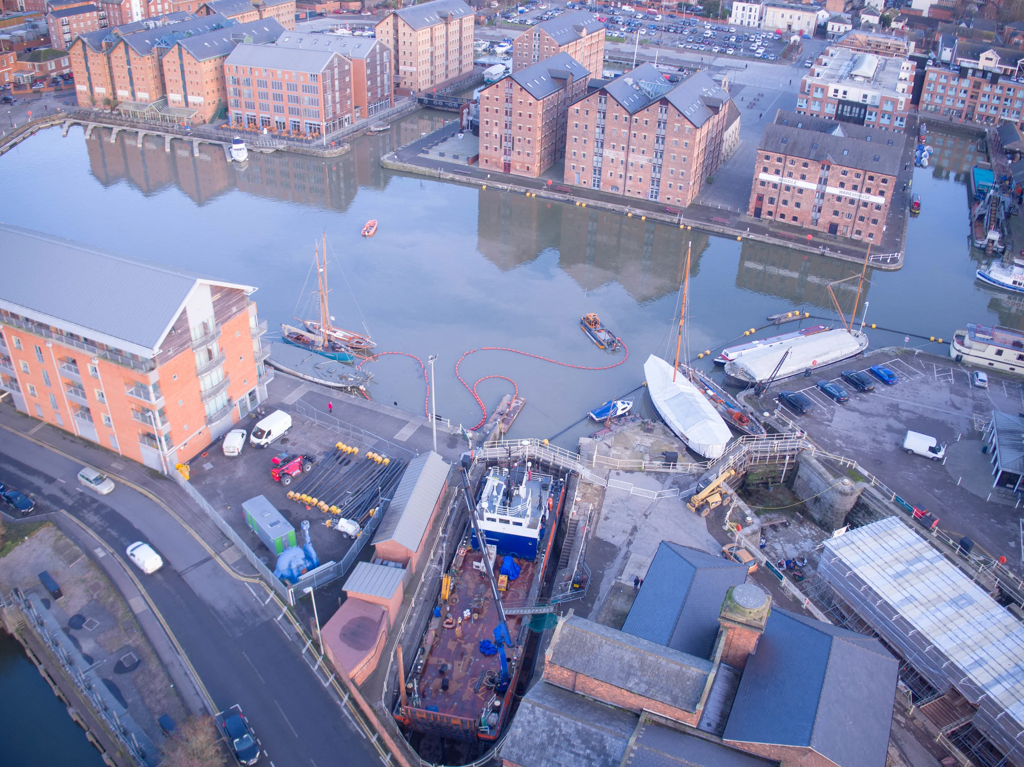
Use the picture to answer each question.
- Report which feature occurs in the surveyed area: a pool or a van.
van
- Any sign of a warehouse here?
Yes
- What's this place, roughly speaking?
port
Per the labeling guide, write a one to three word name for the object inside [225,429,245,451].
vehicle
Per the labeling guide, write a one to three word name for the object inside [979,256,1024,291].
boat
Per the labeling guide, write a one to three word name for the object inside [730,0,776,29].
house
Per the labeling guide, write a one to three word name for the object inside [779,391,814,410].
car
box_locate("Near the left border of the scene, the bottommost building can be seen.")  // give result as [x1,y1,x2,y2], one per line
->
[0,212,270,473]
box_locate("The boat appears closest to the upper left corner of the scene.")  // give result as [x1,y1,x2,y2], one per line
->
[230,135,245,163]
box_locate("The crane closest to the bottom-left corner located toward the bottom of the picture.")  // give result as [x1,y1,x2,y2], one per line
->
[458,464,519,698]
